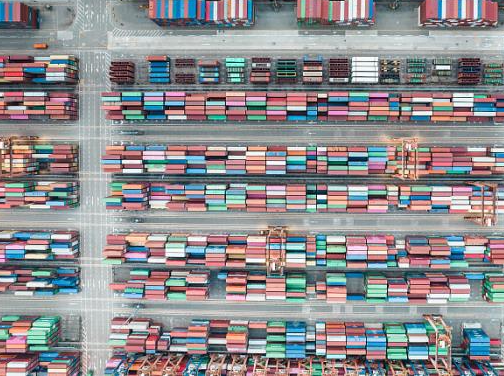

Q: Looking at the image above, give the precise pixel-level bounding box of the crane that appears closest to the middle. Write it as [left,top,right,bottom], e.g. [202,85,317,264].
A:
[266,222,286,276]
